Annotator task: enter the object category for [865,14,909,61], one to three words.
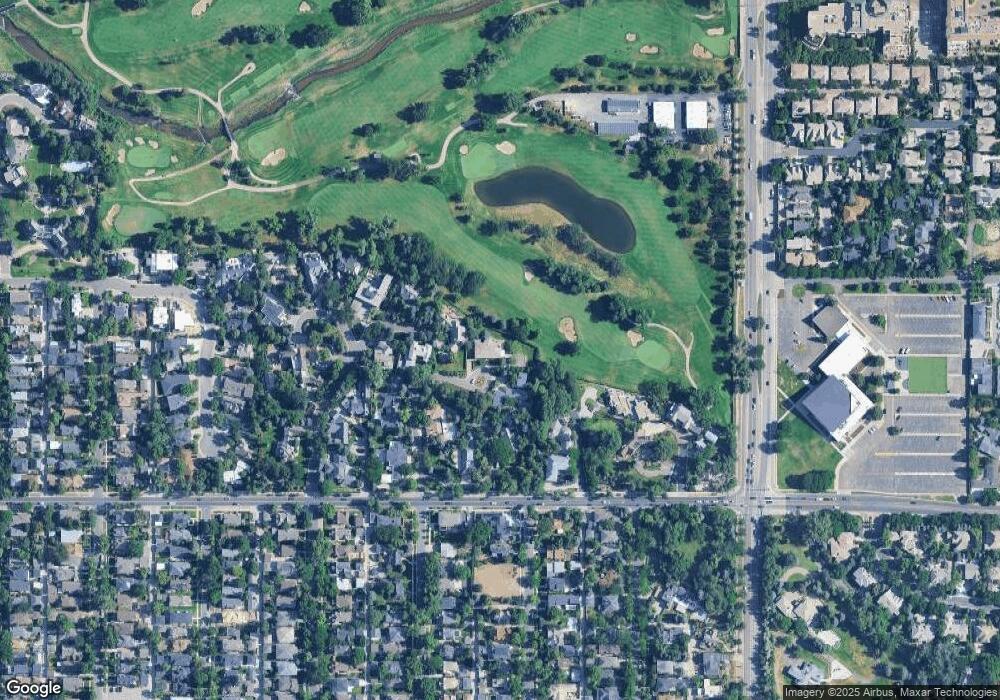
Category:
building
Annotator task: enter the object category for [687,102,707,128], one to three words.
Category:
shed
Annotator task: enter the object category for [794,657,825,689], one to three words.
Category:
house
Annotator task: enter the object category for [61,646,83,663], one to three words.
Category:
house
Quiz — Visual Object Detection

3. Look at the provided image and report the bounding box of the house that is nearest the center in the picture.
[474,340,512,357]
